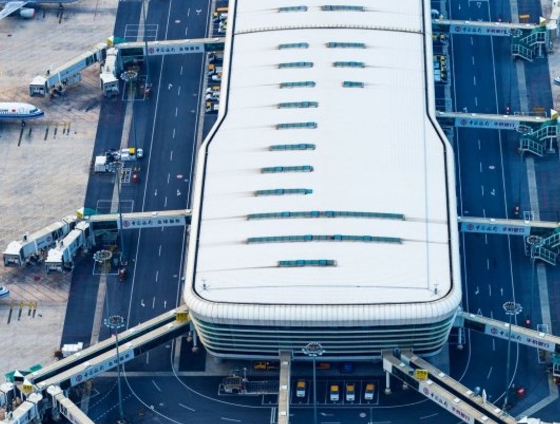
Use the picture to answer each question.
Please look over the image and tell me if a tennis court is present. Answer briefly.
No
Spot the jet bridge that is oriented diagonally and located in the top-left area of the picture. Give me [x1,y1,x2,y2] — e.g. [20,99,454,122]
[30,44,112,101]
